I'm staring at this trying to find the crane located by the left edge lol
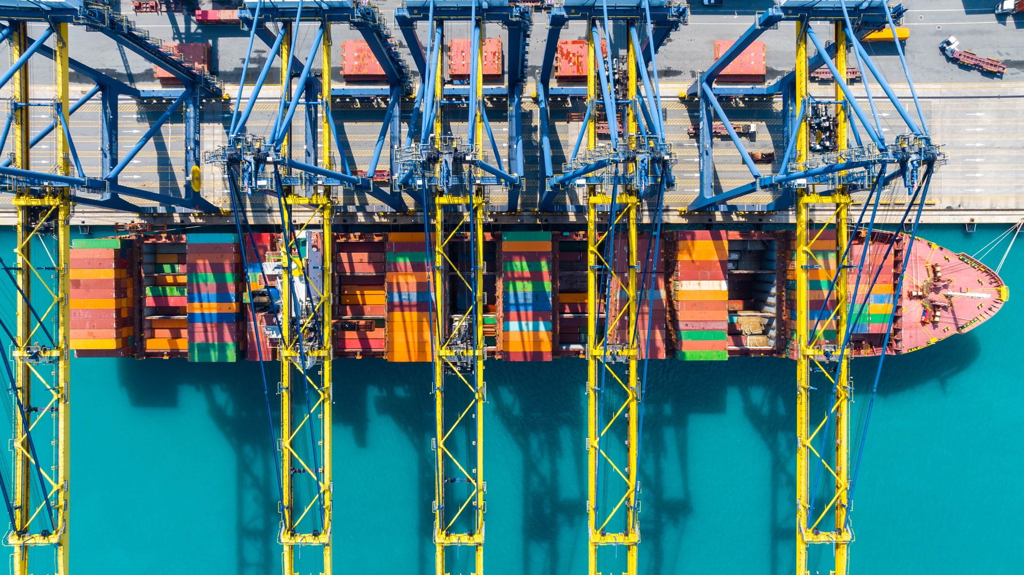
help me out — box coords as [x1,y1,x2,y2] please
[0,0,231,575]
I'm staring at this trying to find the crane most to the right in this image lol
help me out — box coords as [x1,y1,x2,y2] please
[678,0,945,575]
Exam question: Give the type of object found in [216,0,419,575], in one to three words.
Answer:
container crane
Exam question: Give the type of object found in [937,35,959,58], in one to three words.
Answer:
truck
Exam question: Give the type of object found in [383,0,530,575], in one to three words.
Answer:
container crane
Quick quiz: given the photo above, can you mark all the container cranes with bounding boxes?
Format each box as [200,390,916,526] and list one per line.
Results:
[531,0,689,575]
[0,0,231,575]
[383,0,530,575]
[216,0,419,575]
[678,0,945,575]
